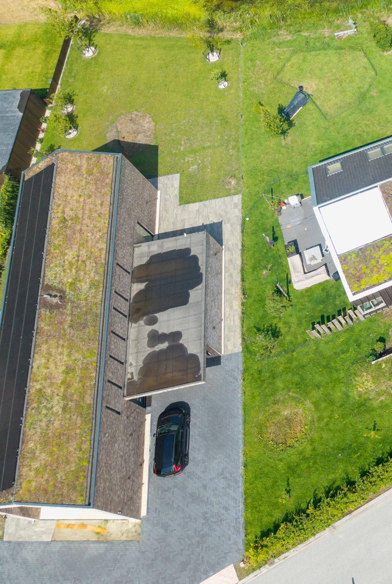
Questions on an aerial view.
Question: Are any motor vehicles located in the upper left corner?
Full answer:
No, I see no motor vehicle in the upper left corner.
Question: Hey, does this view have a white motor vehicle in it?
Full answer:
No, there isn't any white motor vehicle down there.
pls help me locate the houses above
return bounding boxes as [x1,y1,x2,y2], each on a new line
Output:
[0,152,227,546]
[309,137,392,311]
